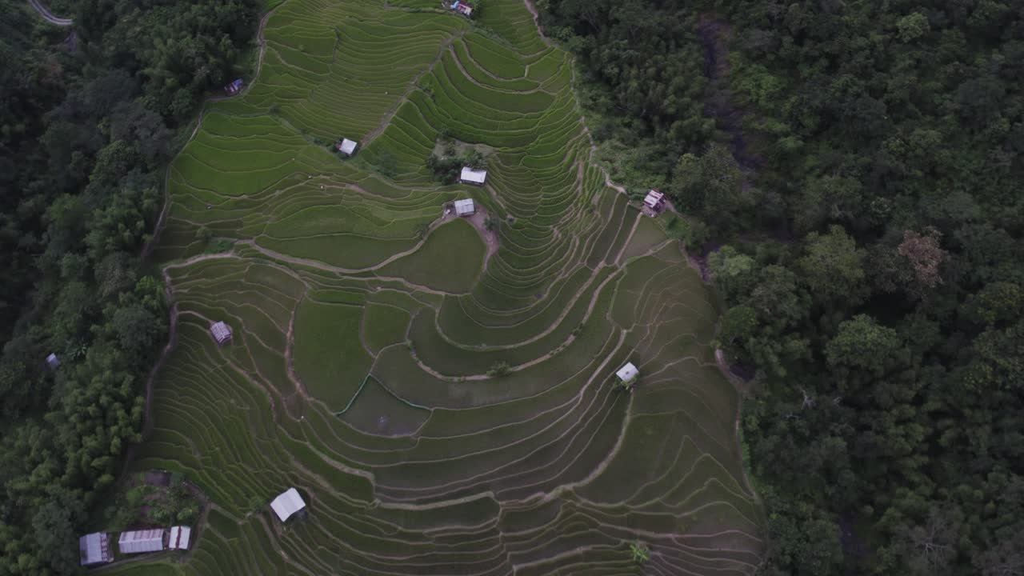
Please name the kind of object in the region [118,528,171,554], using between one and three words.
shed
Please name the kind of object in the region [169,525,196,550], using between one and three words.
shed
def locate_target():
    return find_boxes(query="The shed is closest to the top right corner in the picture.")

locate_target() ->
[641,189,669,213]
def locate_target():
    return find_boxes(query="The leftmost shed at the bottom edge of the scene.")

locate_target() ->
[80,528,113,569]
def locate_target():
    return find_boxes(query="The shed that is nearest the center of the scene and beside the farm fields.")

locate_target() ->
[454,199,475,219]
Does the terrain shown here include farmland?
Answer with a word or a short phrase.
Yes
